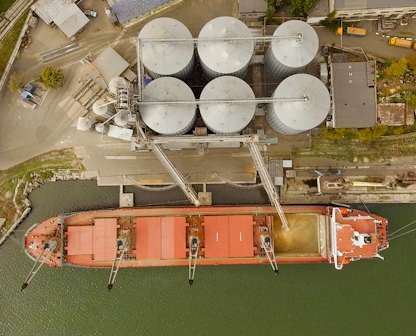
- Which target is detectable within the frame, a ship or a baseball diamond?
ship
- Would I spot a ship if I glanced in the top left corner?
No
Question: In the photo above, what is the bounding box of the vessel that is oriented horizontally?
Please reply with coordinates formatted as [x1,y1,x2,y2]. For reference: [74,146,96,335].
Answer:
[21,205,391,289]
